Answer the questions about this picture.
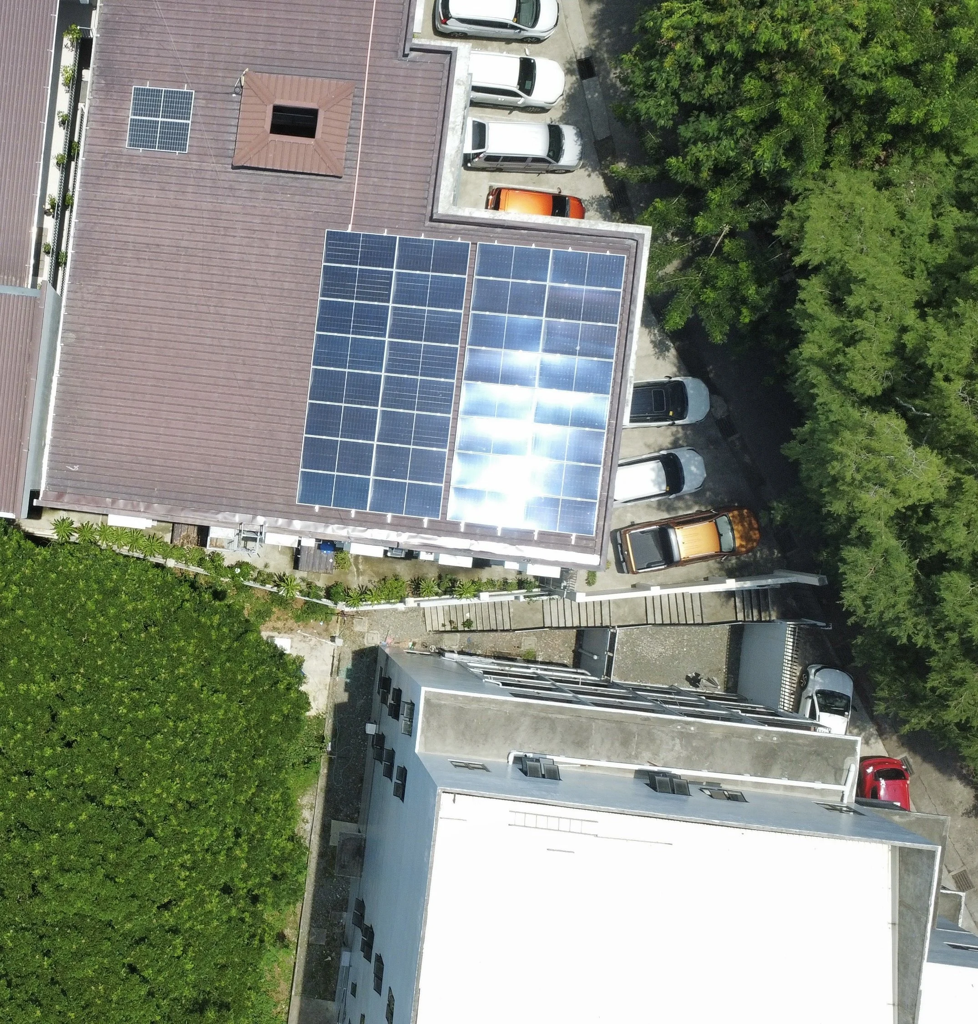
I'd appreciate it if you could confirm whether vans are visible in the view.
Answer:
Yes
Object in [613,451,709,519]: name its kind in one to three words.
car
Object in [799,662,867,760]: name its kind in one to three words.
car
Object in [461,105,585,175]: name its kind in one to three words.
van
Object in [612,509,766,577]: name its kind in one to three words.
truck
